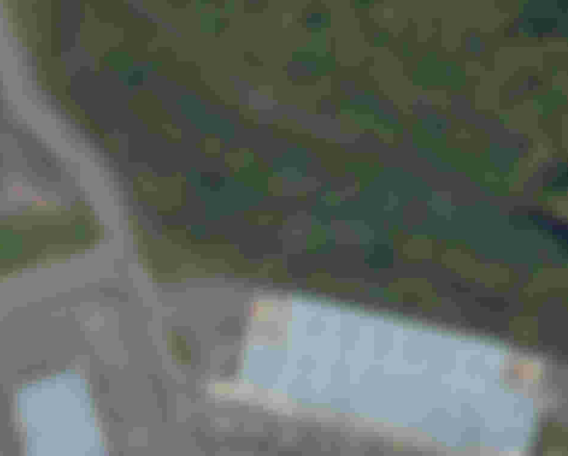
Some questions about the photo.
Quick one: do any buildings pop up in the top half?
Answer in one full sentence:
No, in the top half there is no building.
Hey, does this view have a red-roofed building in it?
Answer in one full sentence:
No, I can see no red-roofed building in this picture.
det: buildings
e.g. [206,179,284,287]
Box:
[16,370,106,456]
[237,293,545,456]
